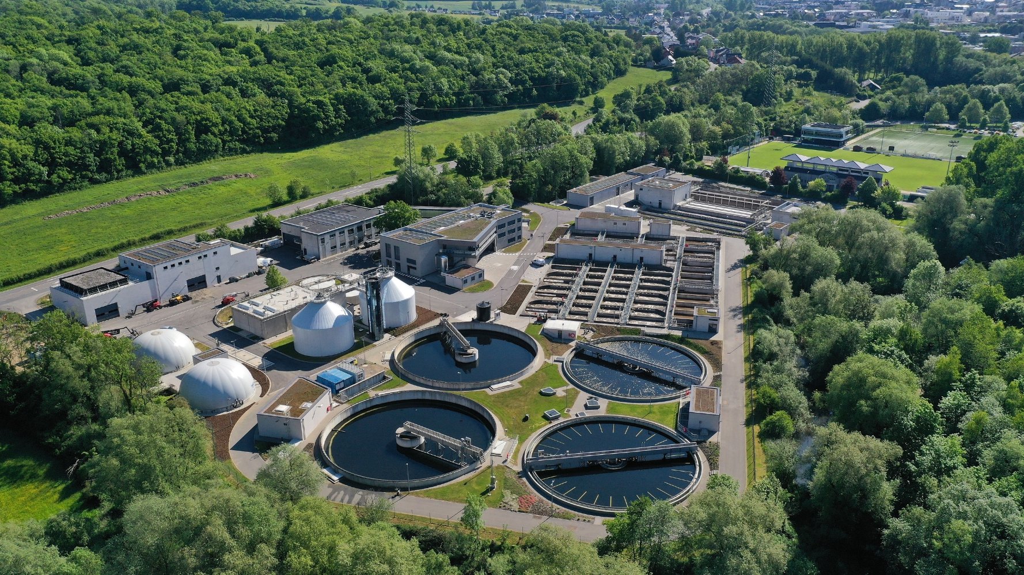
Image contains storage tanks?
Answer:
Yes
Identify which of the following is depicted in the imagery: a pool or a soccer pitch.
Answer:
soccer pitch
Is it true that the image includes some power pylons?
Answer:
Yes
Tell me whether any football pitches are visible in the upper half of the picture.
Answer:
Yes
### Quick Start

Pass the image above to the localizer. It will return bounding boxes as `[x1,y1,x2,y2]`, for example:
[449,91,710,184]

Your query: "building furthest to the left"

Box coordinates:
[53,238,258,325]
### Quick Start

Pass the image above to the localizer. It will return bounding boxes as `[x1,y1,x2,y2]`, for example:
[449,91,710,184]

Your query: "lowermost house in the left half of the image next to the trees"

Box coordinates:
[255,384,330,439]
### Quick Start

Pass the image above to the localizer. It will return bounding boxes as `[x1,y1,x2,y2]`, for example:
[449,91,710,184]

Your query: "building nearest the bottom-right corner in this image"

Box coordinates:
[675,384,722,438]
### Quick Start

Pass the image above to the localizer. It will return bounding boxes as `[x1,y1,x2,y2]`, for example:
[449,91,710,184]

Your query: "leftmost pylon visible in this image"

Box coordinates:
[388,94,421,194]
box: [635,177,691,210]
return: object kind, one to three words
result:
building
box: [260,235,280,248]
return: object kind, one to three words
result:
vehicle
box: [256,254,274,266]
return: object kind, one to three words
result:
vehicle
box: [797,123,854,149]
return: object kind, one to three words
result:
building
